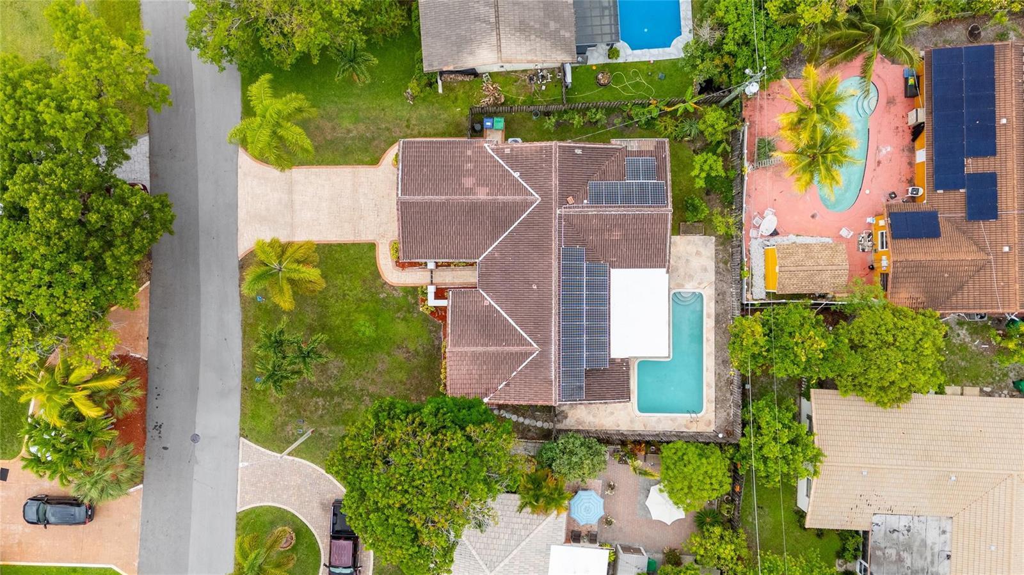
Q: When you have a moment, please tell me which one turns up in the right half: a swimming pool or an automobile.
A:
swimming pool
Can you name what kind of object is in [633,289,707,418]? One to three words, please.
swimming pool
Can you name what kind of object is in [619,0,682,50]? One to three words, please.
swimming pool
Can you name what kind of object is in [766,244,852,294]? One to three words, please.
shed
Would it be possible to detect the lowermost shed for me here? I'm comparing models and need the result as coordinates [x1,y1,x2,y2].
[618,546,650,575]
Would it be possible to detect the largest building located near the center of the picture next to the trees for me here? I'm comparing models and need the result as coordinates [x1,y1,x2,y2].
[395,138,674,407]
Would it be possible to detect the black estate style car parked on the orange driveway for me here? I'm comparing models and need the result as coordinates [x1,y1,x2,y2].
[25,493,97,530]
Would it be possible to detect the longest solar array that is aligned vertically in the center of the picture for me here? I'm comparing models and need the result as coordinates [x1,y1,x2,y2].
[561,247,609,402]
